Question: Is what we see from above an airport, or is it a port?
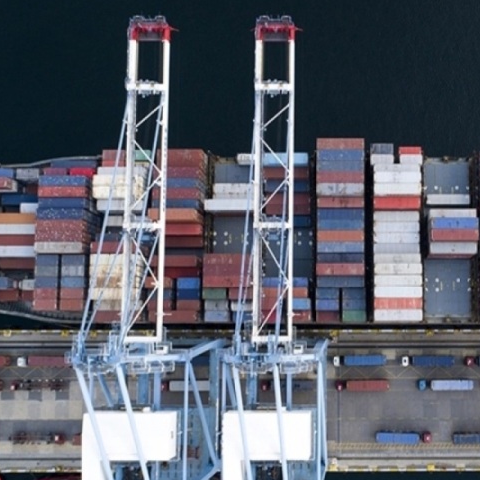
port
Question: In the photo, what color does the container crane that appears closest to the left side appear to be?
white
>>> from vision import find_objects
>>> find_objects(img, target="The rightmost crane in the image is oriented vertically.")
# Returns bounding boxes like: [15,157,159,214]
[218,14,345,480]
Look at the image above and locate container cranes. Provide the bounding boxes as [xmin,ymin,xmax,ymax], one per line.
[62,13,237,480]
[218,14,345,480]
